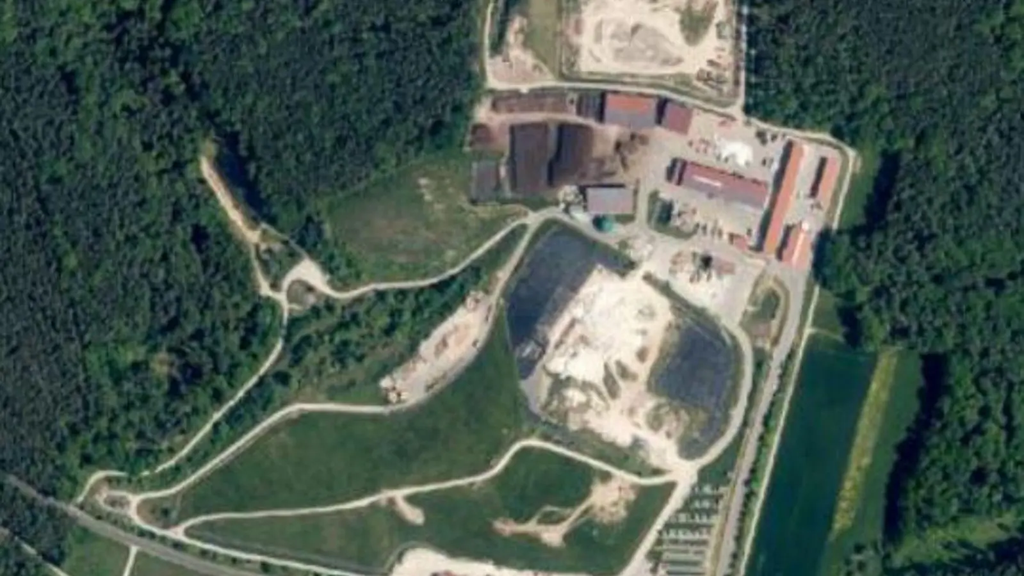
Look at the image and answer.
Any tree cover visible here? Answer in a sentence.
Yes, tree cover can be seen from above here.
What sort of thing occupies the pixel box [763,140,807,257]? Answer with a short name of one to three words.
barn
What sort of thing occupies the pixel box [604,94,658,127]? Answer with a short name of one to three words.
building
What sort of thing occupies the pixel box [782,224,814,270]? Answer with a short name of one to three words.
house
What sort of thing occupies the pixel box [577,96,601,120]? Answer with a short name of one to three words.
shed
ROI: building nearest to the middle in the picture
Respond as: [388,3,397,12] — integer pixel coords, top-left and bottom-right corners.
[587,186,635,213]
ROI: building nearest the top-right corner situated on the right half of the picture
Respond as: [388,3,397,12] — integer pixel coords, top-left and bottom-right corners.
[819,156,842,205]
